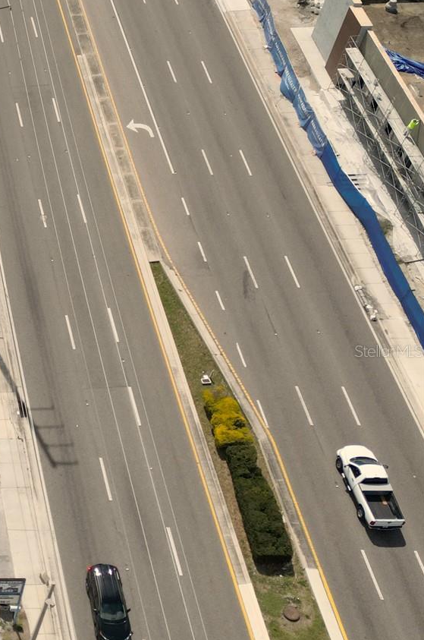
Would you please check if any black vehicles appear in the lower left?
Yes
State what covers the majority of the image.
paved ground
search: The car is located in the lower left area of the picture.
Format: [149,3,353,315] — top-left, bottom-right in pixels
[84,563,133,640]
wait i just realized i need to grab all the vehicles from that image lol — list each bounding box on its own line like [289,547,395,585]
[340,447,407,533]
[84,563,133,640]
